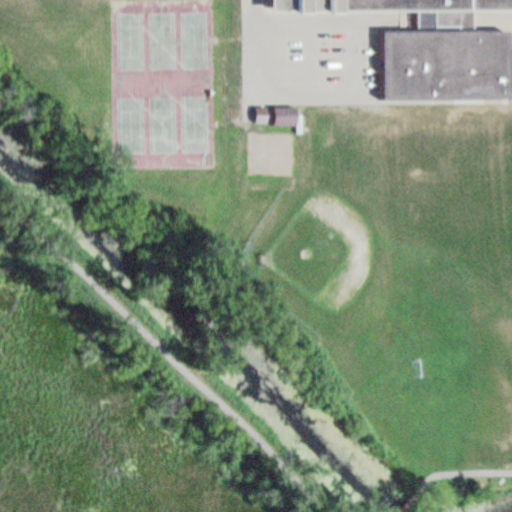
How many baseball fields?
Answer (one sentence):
The count comes to 1 baseball field.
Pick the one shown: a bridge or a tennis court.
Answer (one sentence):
I can see a tennis court in this picture.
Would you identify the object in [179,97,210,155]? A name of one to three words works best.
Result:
tennis court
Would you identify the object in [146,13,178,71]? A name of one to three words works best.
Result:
tennis court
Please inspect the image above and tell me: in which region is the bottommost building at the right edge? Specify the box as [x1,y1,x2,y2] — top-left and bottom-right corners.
[385,32,511,101]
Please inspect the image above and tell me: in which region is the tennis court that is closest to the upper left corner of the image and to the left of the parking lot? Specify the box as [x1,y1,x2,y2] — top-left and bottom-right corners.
[116,13,146,71]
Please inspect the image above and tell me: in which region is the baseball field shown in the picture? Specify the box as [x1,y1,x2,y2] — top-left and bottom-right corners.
[260,195,370,310]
